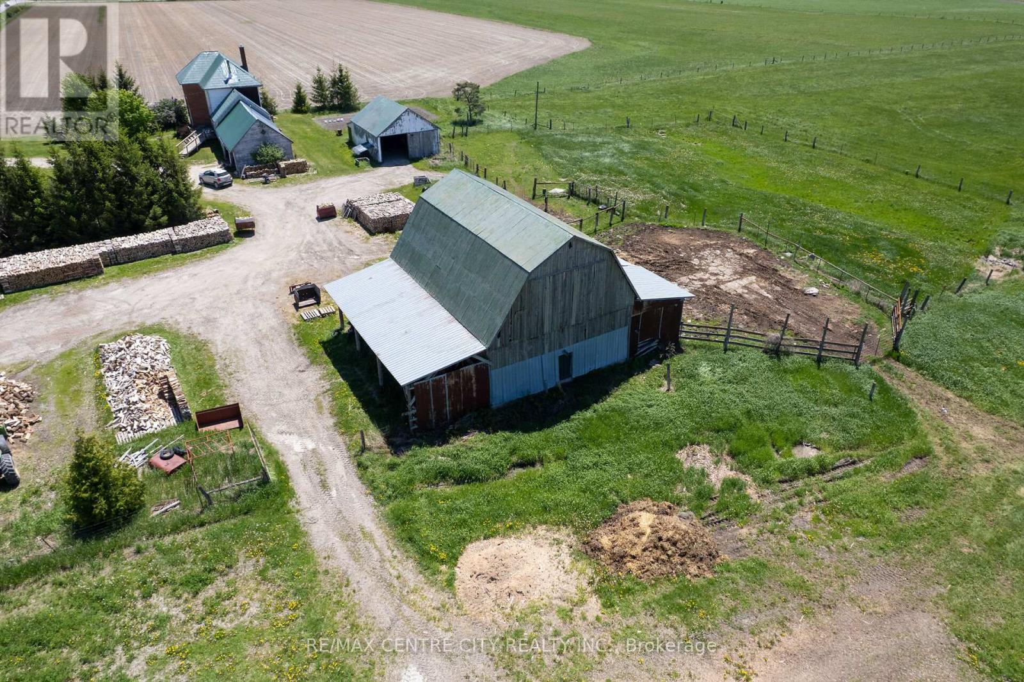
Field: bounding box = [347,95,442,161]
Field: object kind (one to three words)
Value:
shed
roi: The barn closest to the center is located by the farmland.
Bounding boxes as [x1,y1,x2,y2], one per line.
[323,168,696,430]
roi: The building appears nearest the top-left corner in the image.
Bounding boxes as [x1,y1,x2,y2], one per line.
[171,48,300,171]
